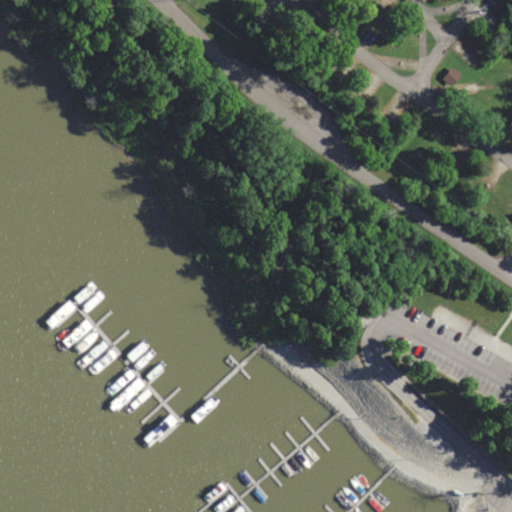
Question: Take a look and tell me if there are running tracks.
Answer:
No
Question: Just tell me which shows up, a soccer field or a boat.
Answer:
boat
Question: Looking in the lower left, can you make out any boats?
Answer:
Yes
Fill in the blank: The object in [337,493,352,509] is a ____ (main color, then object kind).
gray boat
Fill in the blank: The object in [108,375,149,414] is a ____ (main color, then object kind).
white boat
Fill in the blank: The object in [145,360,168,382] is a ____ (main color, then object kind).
white boat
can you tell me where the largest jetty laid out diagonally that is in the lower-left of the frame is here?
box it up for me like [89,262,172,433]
[76,306,184,444]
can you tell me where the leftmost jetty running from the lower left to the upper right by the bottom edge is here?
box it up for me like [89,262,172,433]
[224,414,337,510]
